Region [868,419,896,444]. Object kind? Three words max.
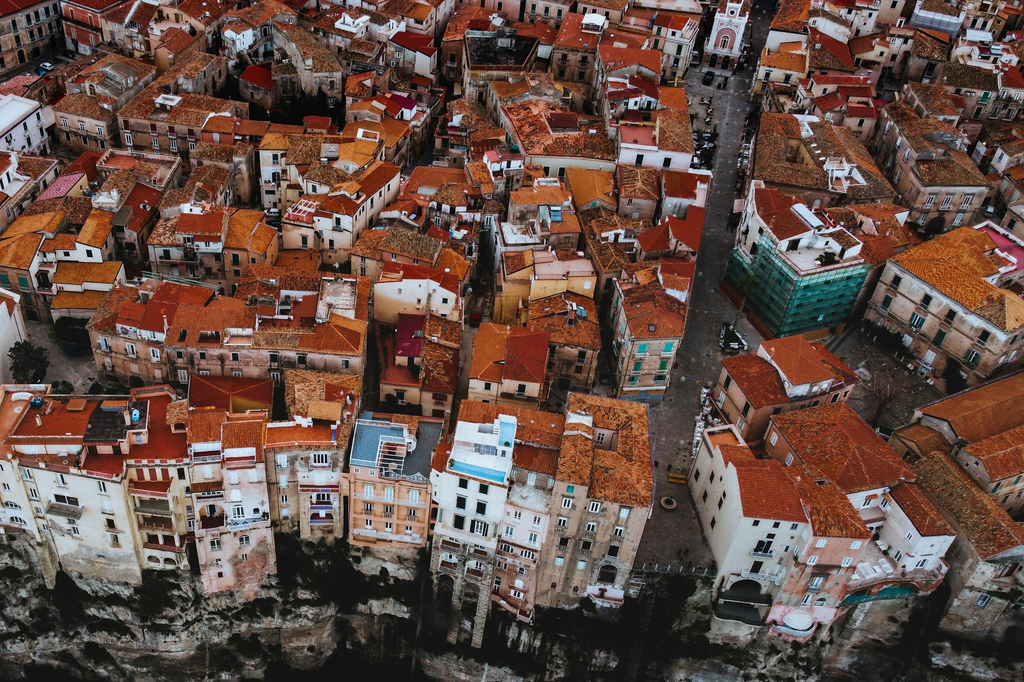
car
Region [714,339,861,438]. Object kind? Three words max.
house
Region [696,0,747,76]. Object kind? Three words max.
building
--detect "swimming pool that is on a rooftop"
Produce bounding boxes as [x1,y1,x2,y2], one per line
[452,461,506,482]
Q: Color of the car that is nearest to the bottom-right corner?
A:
black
